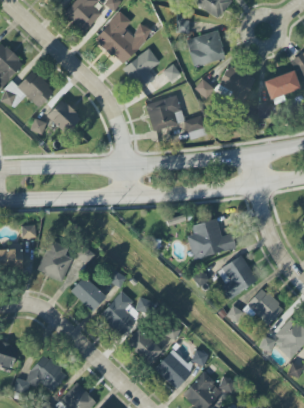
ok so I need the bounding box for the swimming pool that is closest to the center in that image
[172,239,188,262]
